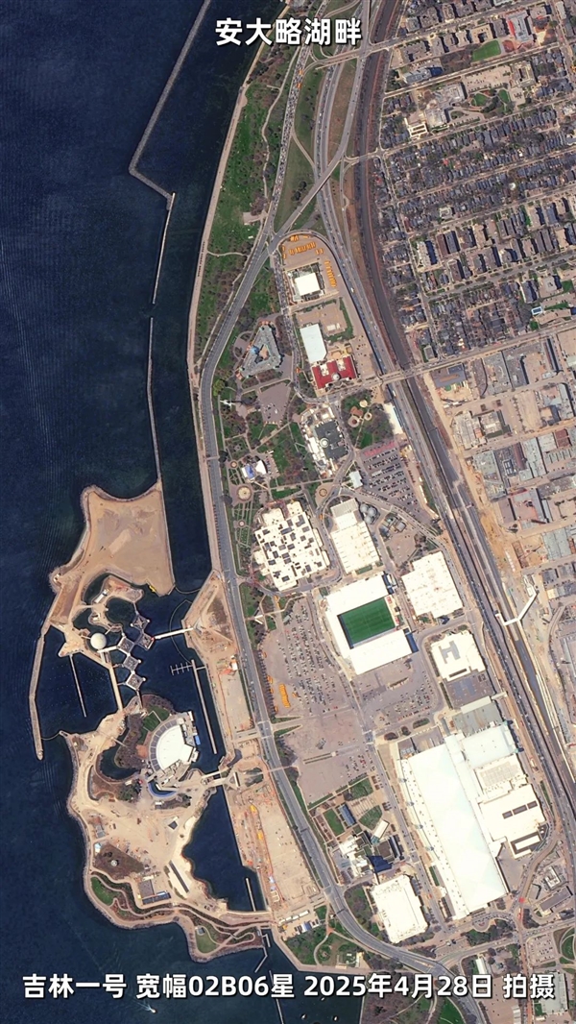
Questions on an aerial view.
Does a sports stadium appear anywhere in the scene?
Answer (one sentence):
Yes, this view includes a sports stadium.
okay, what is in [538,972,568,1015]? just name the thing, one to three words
building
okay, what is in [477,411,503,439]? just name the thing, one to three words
building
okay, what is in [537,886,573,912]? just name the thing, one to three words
shed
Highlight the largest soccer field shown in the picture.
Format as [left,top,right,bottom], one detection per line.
[340,598,395,645]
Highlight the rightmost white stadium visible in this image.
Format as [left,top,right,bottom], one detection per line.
[324,571,413,673]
